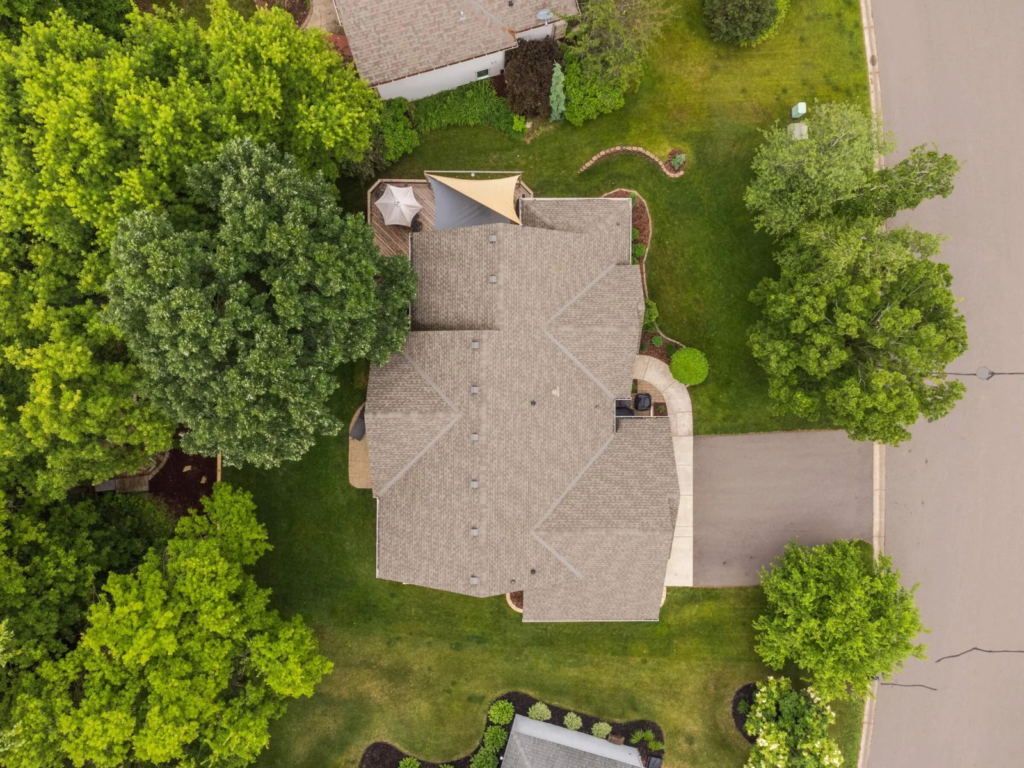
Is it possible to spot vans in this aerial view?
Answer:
No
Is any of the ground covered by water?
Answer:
No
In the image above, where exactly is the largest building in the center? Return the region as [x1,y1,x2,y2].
[364,196,679,622]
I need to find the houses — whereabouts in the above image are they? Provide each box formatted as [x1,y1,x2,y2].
[331,0,581,104]
[500,715,644,768]
[364,196,679,622]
